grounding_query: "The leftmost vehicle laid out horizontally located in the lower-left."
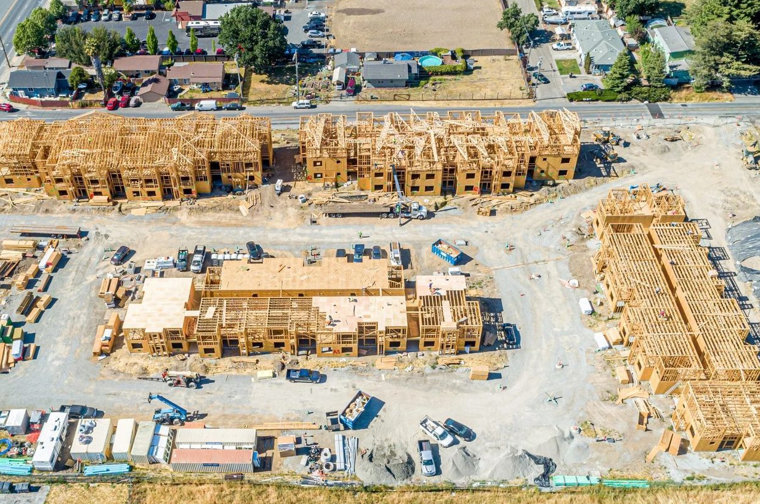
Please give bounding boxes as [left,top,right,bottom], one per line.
[62,402,100,418]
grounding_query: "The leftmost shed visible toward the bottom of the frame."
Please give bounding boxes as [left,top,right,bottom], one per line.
[0,403,32,438]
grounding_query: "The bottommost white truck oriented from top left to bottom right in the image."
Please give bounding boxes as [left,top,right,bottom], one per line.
[419,414,456,446]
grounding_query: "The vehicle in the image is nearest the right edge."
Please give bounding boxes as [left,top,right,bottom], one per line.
[742,143,760,162]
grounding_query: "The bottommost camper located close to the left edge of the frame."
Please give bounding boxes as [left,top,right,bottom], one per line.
[23,410,76,473]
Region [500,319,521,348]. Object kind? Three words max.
vehicle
